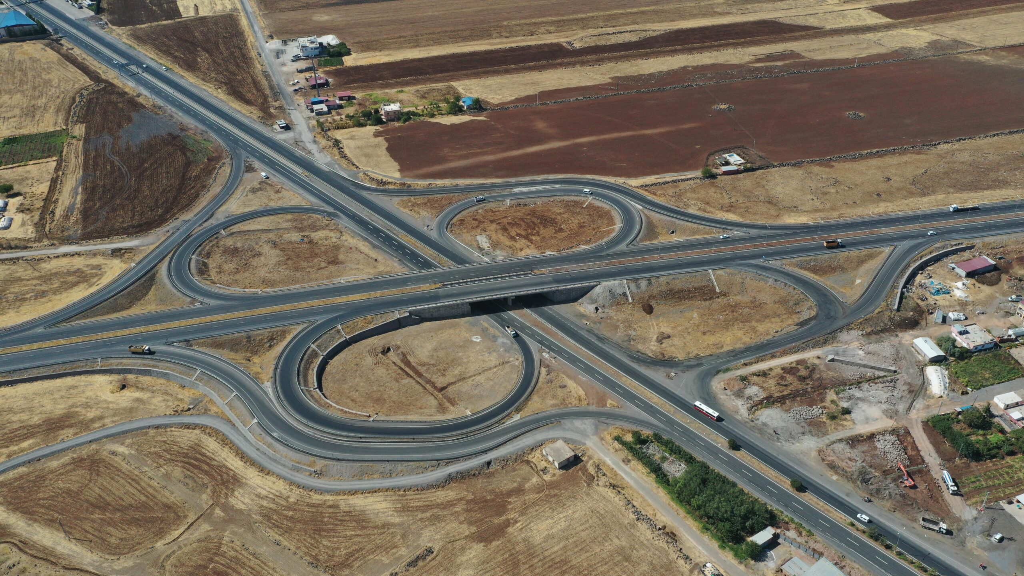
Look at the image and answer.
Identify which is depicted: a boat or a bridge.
bridge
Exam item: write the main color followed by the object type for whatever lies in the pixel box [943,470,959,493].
white vehicle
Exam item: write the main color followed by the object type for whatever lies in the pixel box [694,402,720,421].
white vehicle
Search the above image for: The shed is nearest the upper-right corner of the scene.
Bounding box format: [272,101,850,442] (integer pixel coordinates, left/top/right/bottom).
[952,256,996,279]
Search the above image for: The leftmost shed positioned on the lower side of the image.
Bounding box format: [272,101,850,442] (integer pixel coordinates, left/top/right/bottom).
[543,440,575,466]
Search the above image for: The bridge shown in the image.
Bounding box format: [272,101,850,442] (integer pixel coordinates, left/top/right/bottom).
[341,248,596,323]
